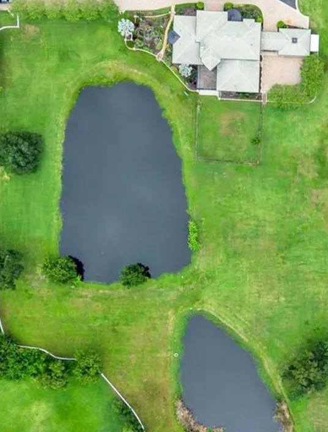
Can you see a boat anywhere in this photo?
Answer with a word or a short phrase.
No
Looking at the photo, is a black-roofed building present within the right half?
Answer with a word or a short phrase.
No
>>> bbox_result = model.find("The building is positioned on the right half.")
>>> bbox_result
[168,8,319,94]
